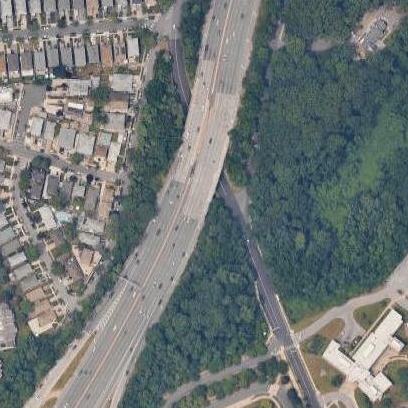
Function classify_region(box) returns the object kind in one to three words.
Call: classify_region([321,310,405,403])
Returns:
building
